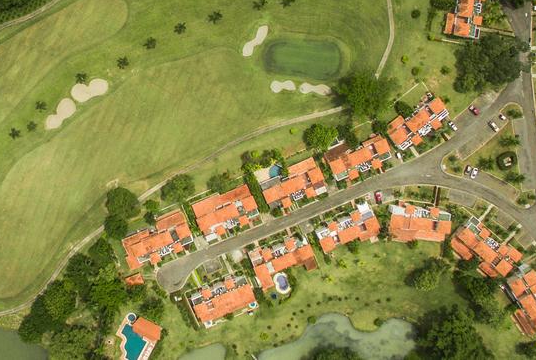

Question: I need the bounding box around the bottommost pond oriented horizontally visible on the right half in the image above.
[257,312,422,360]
